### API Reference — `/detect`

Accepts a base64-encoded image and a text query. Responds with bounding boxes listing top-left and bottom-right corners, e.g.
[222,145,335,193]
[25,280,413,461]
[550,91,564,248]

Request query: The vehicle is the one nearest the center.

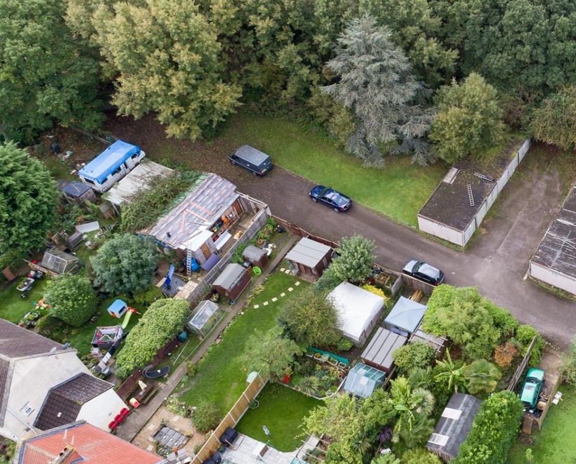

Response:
[306,187,354,214]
